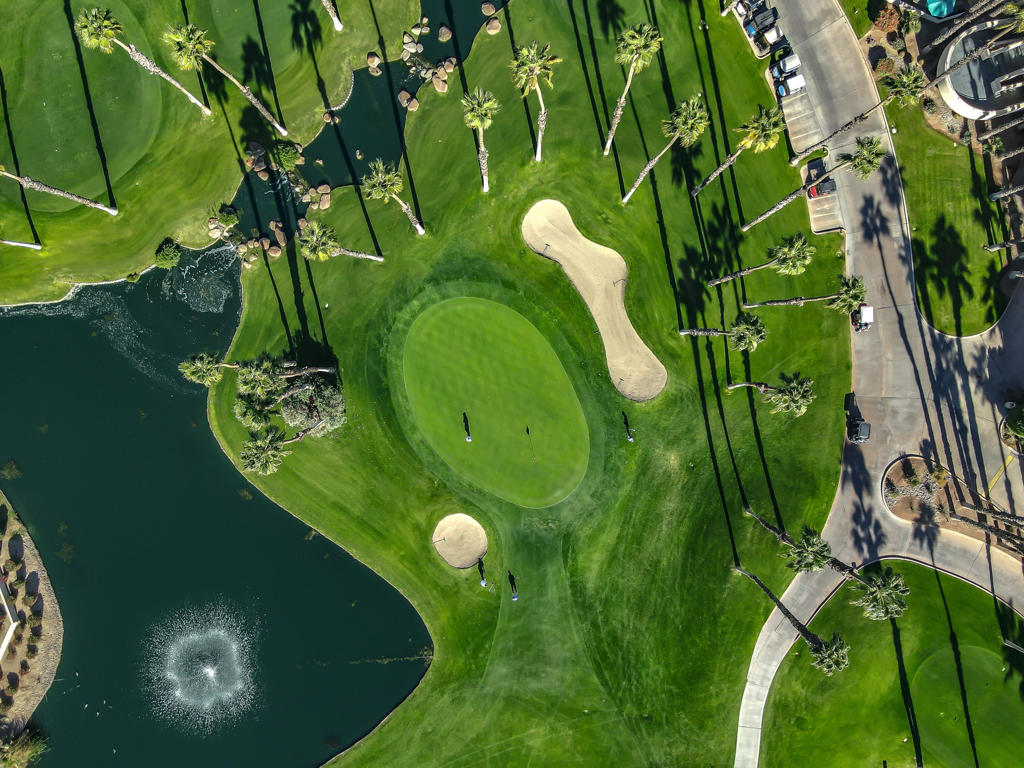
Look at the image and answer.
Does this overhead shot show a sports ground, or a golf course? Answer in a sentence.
The picture captures a golf course.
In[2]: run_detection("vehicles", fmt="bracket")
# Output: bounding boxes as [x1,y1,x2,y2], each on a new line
[732,0,760,16]
[851,304,873,326]
[753,26,783,52]
[769,57,800,82]
[743,12,773,39]
[806,181,835,201]
[849,416,872,441]
[775,76,805,101]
